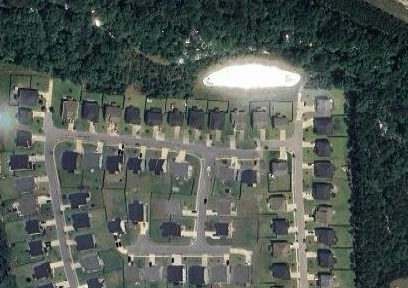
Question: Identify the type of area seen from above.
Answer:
residential area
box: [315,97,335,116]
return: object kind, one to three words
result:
house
